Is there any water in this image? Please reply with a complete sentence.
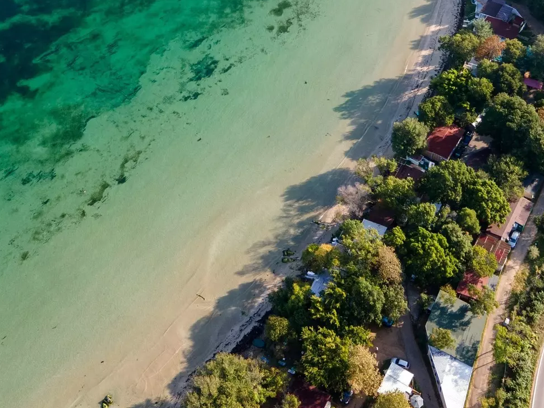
Yes, the picture does contain water.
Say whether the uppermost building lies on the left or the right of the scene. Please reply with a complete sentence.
The uppermost building appears in the right half of the scene.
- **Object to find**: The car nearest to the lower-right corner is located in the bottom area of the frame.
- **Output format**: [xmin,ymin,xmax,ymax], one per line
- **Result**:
[389,354,412,371]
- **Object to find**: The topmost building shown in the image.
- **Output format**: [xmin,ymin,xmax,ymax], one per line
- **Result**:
[476,0,526,40]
